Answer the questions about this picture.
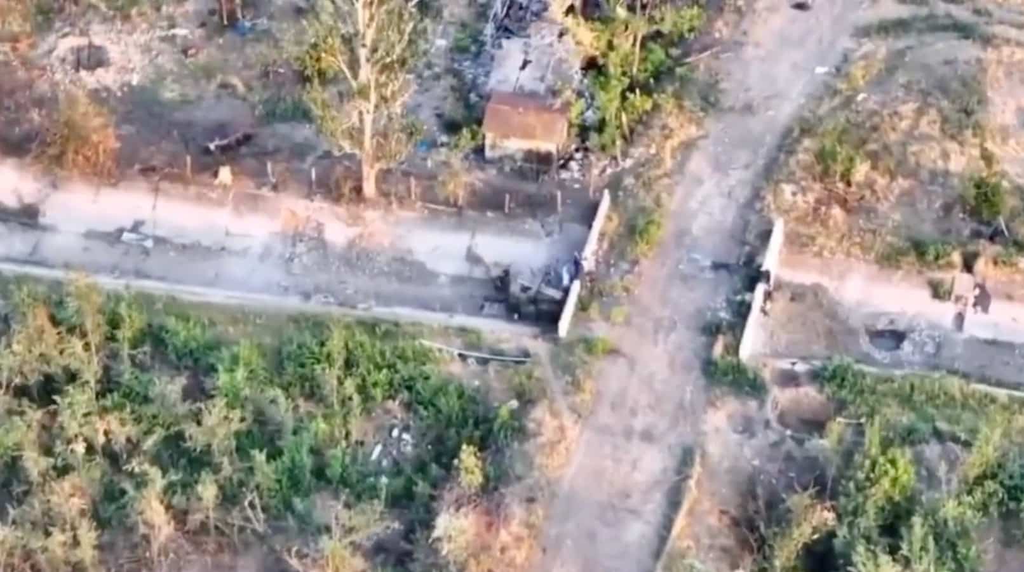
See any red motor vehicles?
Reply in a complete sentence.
No, there appears to be no red motor vehicle in this shot.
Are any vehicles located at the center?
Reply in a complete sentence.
Yes, a vehicle can be seen at the center.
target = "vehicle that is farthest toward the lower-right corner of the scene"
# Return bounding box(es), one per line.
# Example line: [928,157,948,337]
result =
[472,259,573,326]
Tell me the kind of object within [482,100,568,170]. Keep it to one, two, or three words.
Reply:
shed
